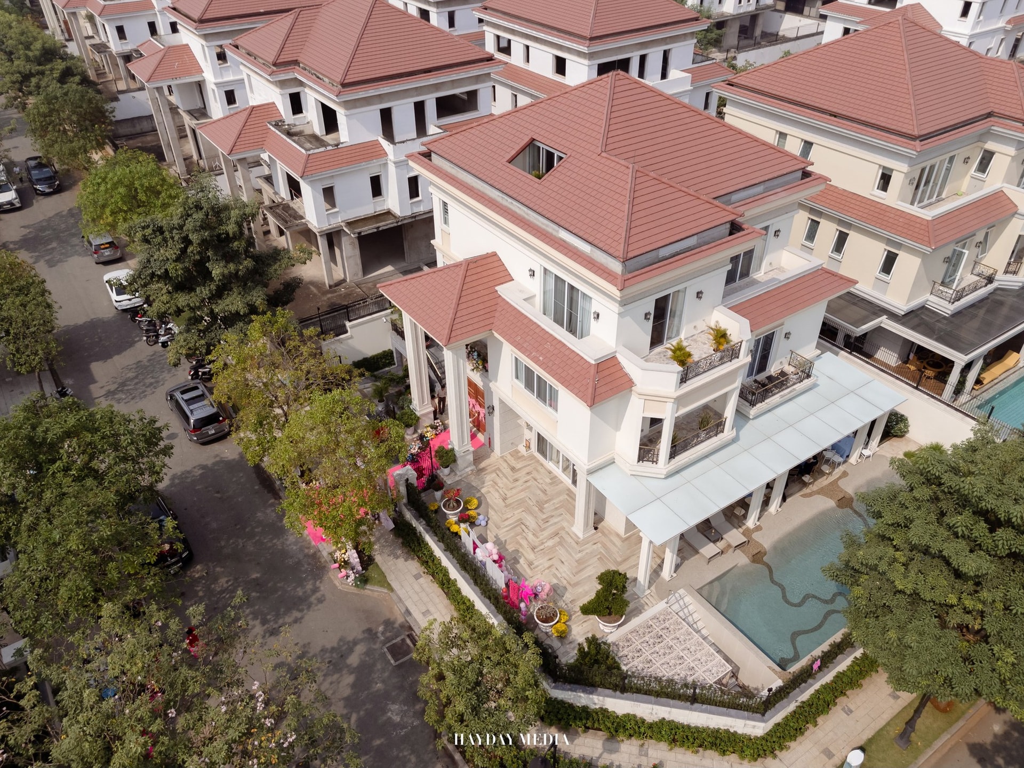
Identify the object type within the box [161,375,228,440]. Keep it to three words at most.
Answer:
car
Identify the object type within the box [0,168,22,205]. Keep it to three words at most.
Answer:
car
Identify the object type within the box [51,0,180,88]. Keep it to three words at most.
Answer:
house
